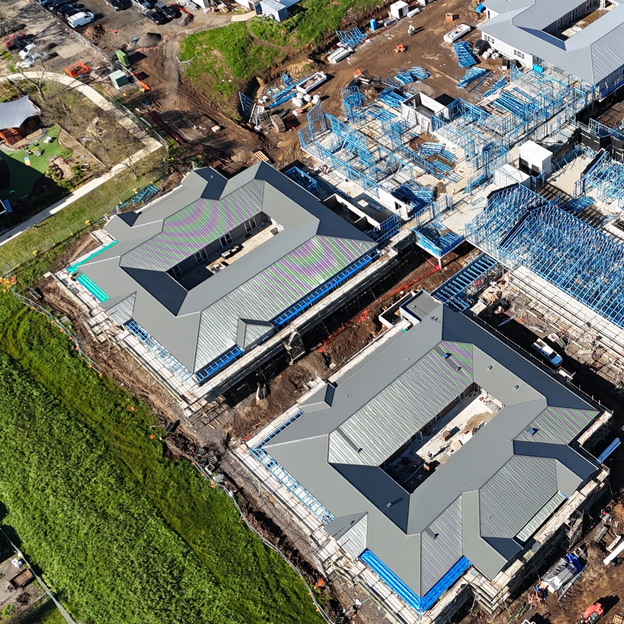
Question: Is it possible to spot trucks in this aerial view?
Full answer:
Yes, a truck is visible in the scene.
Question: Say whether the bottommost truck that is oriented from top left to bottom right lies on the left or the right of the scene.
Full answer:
It is on the right.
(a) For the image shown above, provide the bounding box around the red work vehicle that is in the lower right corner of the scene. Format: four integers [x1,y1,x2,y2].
[572,588,612,624]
